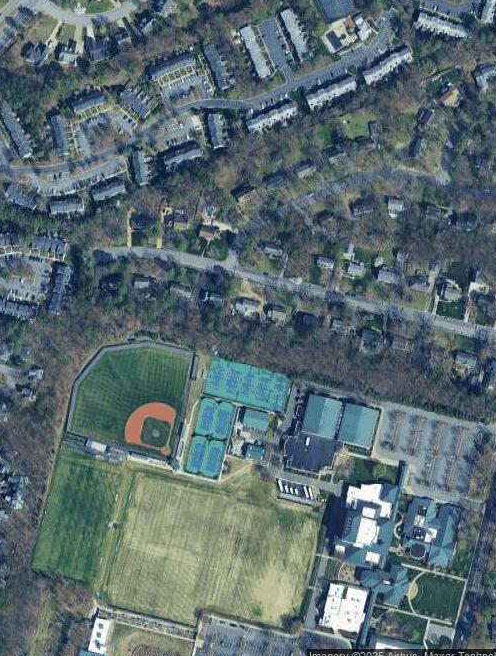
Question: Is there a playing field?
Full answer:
Yes, a playing field appears in the view.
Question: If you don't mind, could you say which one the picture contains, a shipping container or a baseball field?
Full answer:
It is a baseball field that can be seen here.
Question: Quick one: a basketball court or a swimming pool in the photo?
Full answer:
This aerial view contains a swimming pool.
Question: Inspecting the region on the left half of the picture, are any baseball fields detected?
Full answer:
Yes, a baseball field appears on the left half of the picture.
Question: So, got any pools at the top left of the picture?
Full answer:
No, looking at the top left of the picture, there is no pool.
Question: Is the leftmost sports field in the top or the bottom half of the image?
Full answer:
The leftmost sports field is in the bottom half of the image.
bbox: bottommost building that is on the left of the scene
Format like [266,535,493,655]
[79,618,111,656]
